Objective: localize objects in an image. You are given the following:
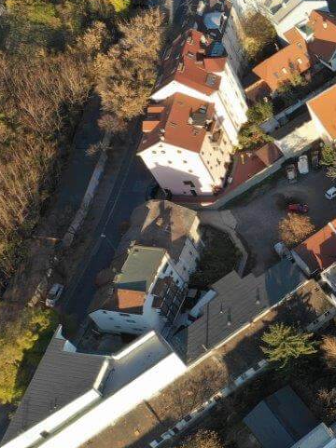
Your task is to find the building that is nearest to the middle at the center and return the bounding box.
[117,200,211,284]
